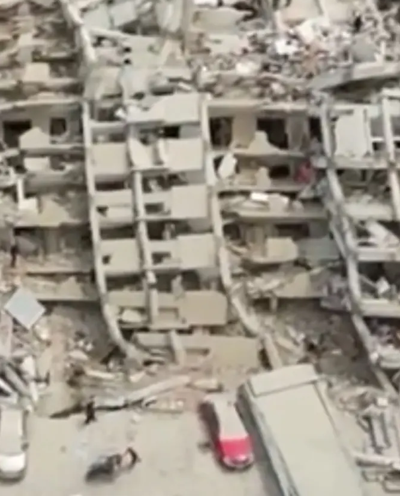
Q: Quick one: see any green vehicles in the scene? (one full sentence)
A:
No, no green vehicle is visible in the view.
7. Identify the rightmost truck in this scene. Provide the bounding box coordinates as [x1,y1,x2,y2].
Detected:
[243,367,372,496]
